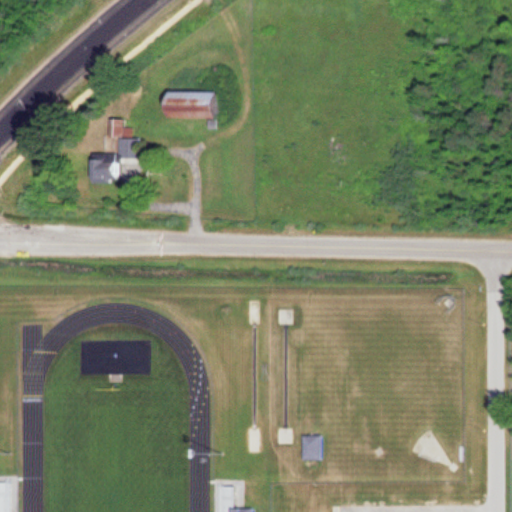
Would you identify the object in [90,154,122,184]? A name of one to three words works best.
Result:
house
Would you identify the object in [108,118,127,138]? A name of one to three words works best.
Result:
shed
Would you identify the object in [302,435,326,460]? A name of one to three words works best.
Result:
shed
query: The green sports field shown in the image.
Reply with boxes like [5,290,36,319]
[44,324,189,512]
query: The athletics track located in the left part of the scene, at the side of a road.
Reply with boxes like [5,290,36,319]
[23,303,210,512]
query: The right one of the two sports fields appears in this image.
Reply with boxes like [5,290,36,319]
[272,289,462,481]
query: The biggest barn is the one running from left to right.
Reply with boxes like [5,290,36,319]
[160,91,218,119]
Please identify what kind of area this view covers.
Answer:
sports ground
